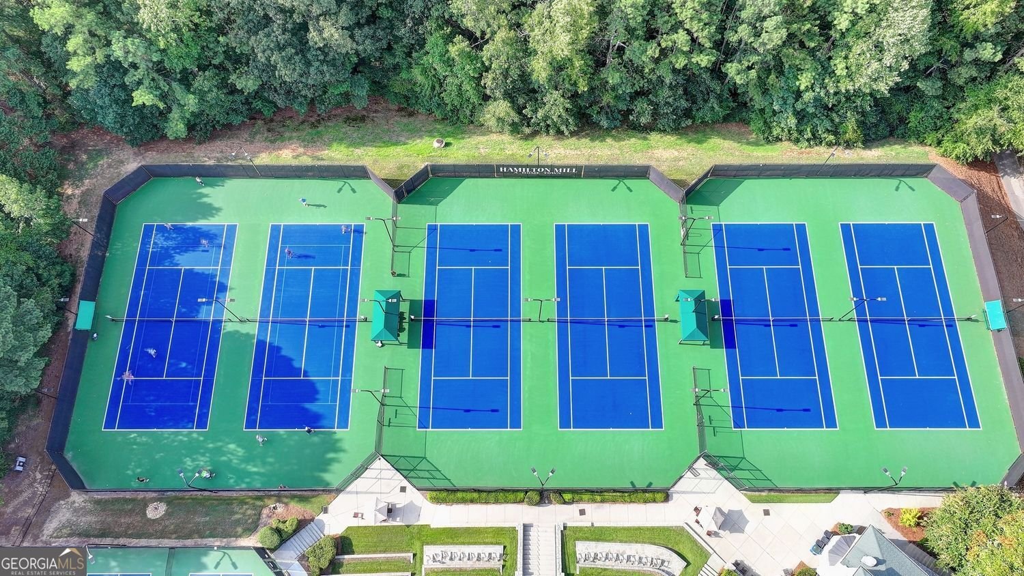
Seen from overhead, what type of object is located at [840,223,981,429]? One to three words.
tennis court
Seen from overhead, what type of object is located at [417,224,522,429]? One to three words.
tennis court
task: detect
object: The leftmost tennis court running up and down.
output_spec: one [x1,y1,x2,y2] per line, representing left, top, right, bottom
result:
[103,224,237,430]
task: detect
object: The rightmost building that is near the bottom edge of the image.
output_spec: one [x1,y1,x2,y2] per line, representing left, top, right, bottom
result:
[815,524,930,576]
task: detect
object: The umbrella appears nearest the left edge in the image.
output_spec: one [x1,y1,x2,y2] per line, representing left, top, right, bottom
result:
[356,497,386,526]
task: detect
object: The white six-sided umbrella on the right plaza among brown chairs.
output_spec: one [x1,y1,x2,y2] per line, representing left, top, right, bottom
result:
[694,502,721,534]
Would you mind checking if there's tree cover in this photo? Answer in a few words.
Yes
